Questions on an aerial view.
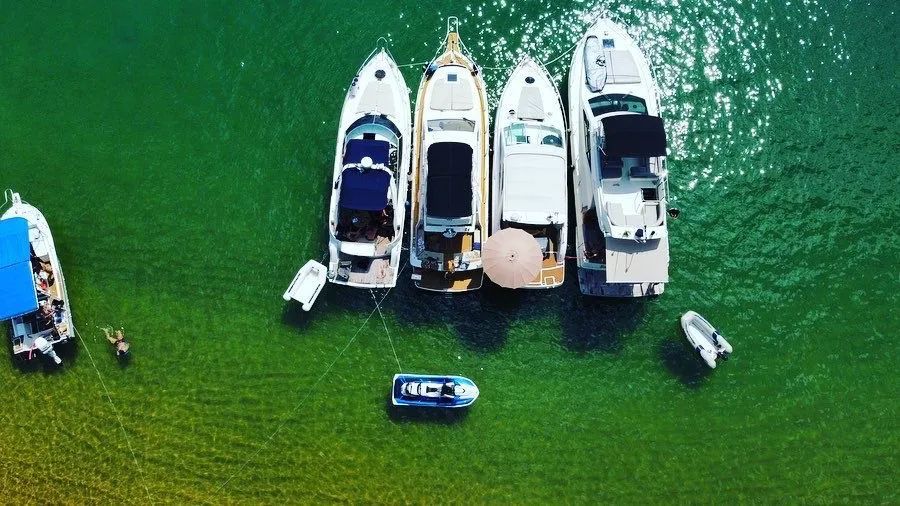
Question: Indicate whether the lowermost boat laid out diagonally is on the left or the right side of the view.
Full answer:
It is on the right.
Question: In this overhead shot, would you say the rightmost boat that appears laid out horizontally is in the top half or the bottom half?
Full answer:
It is in the bottom half that the rightmost boat that appears laid out horizontally appears.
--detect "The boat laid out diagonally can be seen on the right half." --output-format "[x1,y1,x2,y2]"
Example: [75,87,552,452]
[681,311,741,373]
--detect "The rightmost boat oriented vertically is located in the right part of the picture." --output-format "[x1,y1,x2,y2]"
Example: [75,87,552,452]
[566,11,675,299]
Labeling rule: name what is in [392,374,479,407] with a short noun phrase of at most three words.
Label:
boat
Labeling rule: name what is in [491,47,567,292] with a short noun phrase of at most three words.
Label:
boat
